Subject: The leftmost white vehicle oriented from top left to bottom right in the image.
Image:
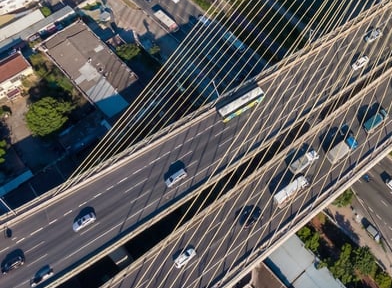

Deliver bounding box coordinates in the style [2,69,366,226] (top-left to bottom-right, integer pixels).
[151,7,176,30]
